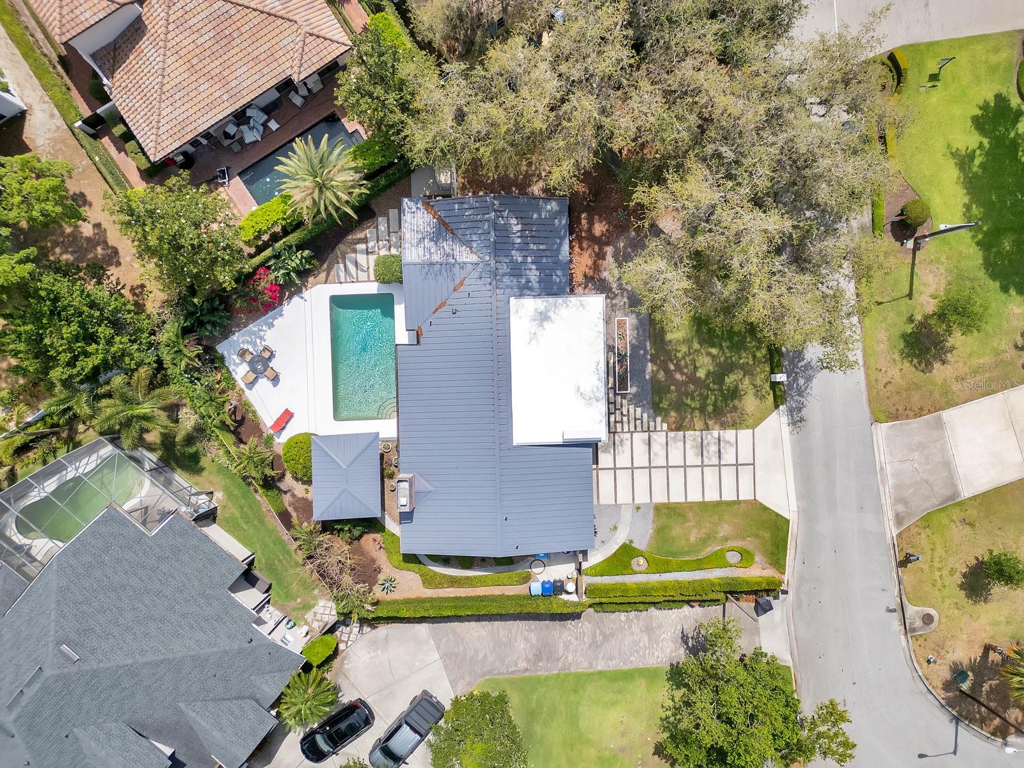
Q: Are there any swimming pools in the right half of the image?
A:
No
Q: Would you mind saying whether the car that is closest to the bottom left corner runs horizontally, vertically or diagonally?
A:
diagonally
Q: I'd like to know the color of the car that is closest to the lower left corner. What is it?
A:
black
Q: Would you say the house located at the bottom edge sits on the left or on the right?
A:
left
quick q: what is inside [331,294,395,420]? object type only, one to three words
swimming pool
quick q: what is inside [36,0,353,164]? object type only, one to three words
house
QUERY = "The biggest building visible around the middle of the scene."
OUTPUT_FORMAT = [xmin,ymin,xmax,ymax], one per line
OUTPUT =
[394,194,607,558]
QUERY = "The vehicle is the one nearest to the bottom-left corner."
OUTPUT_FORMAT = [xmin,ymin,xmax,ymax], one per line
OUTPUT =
[299,695,378,766]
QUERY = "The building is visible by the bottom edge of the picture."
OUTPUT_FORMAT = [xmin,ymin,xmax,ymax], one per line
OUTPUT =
[0,503,307,768]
